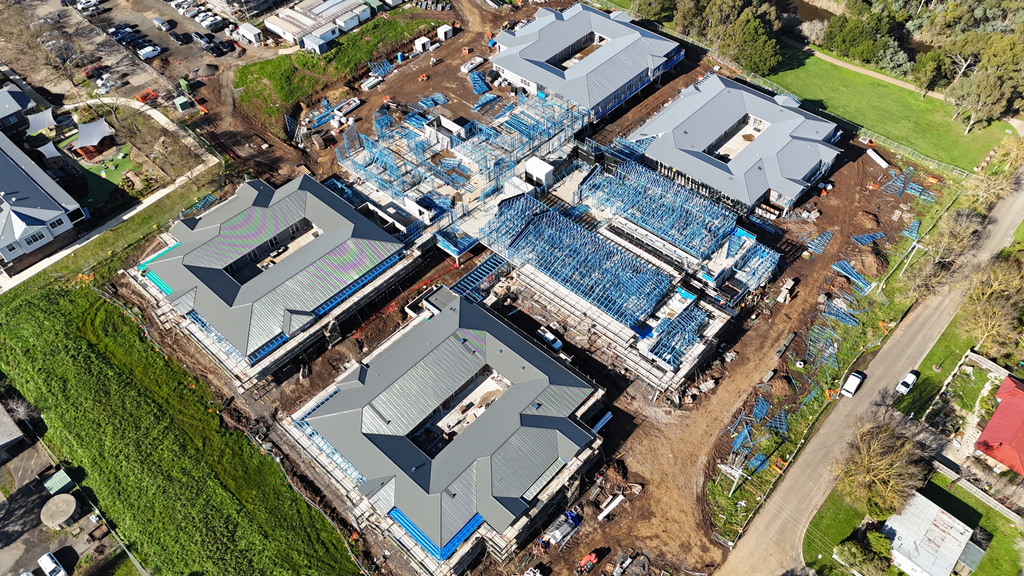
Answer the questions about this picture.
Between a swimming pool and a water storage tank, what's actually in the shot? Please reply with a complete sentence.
Of the two, only a water storage tank appears.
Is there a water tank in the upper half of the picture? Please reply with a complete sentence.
No, I see no water tank in the upper half of the picture.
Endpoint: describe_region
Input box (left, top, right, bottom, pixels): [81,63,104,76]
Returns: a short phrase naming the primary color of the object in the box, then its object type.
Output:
red vehicle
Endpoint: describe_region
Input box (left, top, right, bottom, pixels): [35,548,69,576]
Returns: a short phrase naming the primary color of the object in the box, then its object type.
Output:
white car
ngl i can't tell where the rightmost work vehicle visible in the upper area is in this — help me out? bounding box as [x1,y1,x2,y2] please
[502,10,517,28]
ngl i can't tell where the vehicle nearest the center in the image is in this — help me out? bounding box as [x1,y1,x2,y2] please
[533,325,565,353]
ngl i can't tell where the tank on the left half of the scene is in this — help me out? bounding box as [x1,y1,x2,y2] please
[42,493,87,533]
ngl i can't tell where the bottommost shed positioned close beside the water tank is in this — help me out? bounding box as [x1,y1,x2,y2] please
[41,468,77,496]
